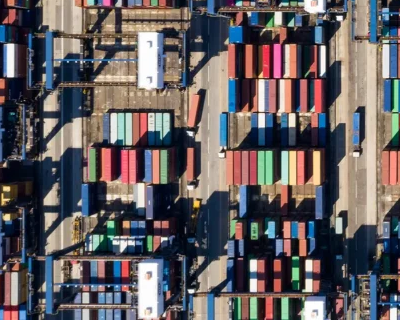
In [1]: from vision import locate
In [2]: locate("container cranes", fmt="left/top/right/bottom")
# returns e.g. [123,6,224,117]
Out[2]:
[188,266,347,320]
[349,249,400,320]
[349,0,400,53]
[0,92,30,164]
[27,233,188,320]
[189,0,348,26]
[0,200,30,267]
[27,24,188,96]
